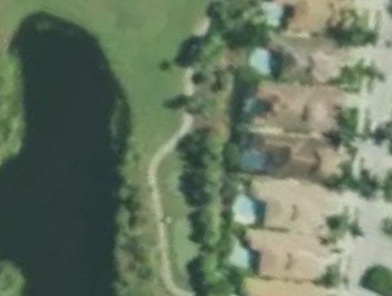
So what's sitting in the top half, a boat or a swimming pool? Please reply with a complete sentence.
Looking in the top half, you will find a swimming pool.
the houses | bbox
[274,0,354,38]
[243,229,331,280]
[246,176,335,234]
[244,278,334,296]
[251,132,345,179]
[255,83,349,134]
[267,35,352,85]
